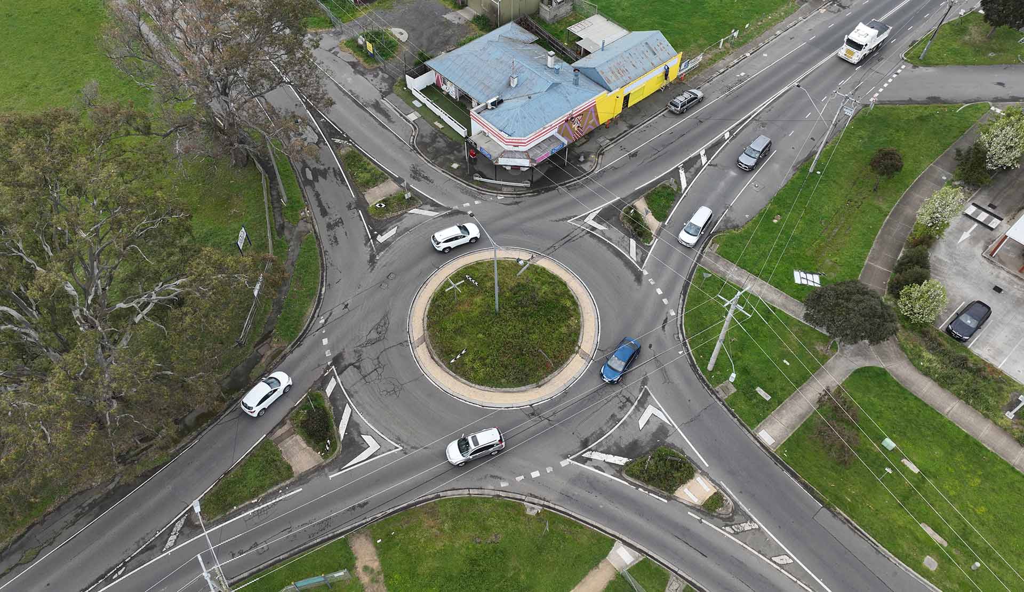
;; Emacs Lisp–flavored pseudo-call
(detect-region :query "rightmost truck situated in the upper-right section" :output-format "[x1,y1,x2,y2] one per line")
[838,17,899,66]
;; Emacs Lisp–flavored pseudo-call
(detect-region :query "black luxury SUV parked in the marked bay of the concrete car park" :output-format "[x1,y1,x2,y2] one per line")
[948,299,994,345]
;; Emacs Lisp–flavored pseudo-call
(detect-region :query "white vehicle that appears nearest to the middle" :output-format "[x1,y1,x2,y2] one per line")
[430,222,481,252]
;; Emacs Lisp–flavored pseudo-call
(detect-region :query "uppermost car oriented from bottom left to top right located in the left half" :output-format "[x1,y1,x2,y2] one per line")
[238,372,296,420]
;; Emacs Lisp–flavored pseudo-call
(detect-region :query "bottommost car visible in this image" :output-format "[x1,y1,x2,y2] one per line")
[444,424,507,467]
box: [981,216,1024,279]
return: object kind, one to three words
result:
building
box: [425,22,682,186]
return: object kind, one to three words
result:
building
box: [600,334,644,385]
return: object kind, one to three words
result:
car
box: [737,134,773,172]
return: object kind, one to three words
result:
car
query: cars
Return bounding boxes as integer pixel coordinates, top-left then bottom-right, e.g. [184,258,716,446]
[238,372,296,420]
[666,89,707,116]
[948,299,994,345]
[737,134,773,172]
[679,205,715,248]
[444,424,507,467]
[430,222,481,252]
[600,334,644,385]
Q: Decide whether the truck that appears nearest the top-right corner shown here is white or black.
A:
white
